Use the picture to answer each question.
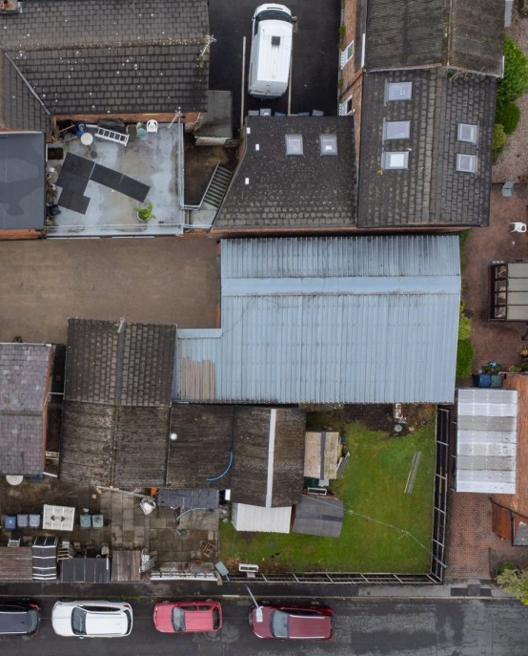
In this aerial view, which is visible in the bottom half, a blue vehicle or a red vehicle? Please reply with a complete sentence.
Looking in the bottom half, you will find a red vehicle.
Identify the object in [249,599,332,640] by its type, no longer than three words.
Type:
car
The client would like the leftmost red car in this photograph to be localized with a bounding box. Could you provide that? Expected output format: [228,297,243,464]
[154,598,221,634]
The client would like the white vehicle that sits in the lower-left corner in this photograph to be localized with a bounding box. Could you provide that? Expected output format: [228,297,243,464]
[54,598,132,637]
